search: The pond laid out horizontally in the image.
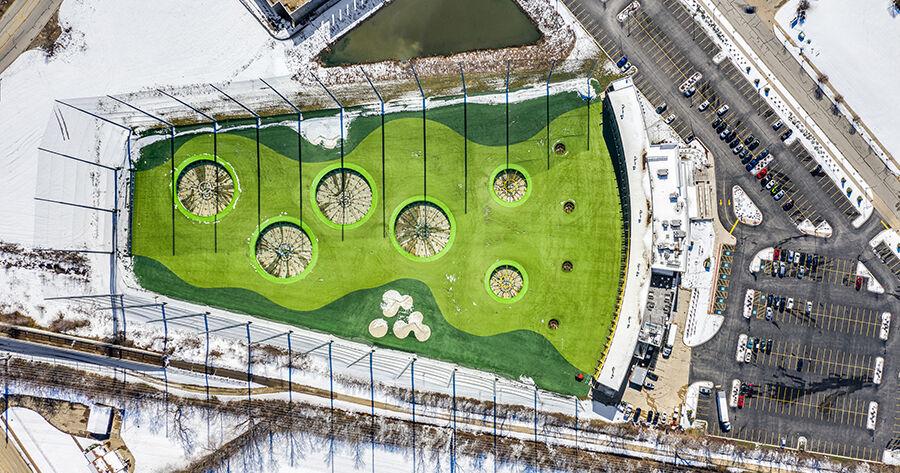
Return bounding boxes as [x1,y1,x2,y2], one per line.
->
[318,0,541,67]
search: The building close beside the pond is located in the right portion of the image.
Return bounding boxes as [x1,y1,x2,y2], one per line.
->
[590,78,691,405]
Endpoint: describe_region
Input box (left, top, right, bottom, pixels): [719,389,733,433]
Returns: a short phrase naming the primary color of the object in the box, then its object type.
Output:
white vehicle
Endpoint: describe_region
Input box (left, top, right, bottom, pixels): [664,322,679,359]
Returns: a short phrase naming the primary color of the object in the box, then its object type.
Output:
white vehicle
